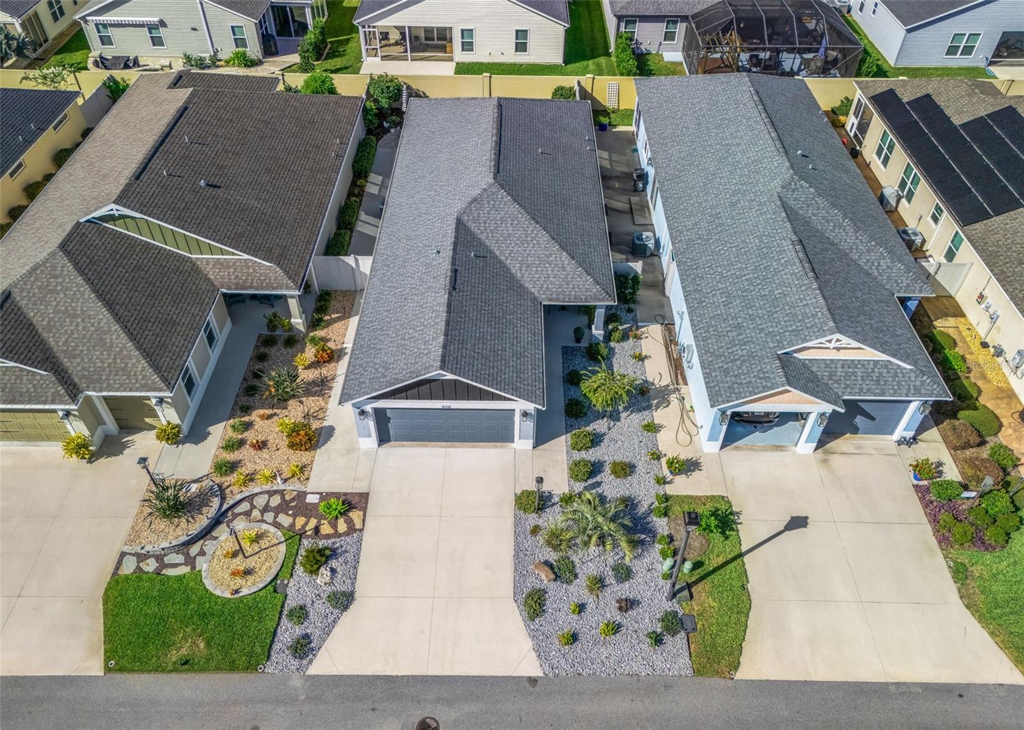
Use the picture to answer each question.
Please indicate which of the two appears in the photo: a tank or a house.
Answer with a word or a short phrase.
house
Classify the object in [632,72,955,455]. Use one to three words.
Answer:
house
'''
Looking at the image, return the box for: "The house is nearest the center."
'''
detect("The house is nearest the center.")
[341,96,619,452]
